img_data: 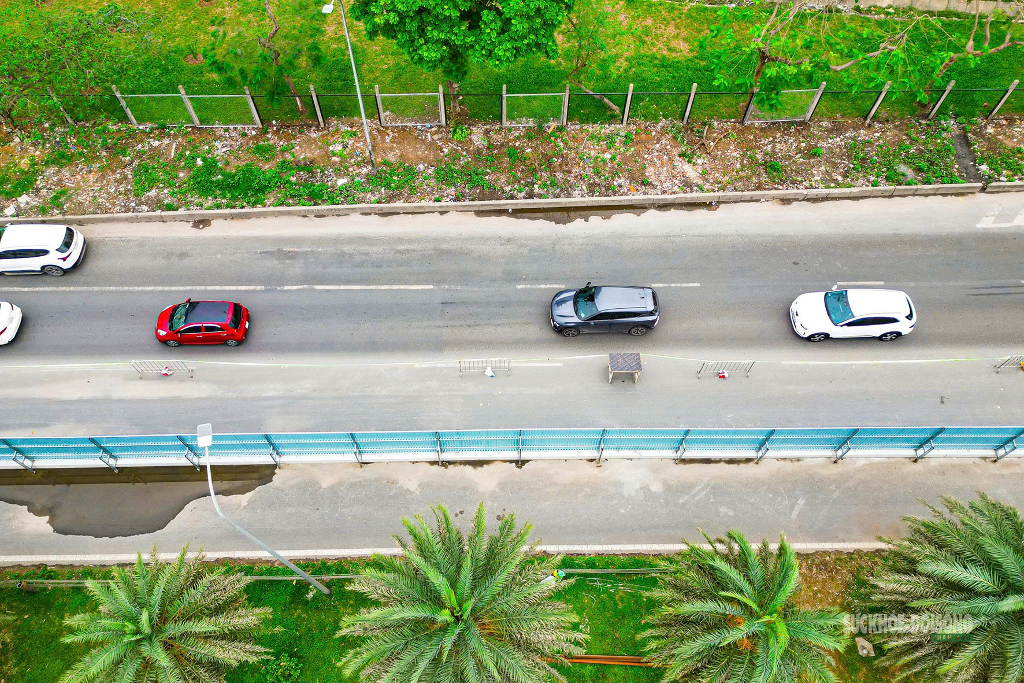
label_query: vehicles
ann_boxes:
[549,282,661,336]
[153,298,250,346]
[0,222,83,275]
[0,305,28,352]
[790,284,918,341]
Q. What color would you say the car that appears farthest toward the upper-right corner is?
white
